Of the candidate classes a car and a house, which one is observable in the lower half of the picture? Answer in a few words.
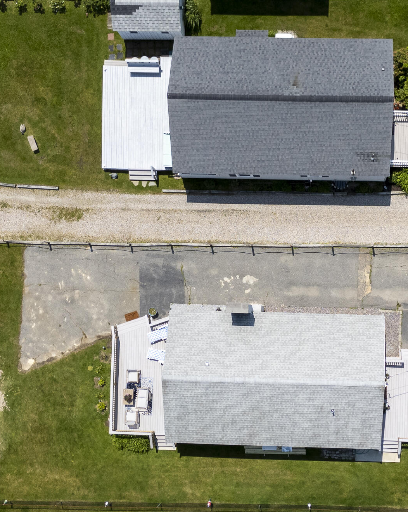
house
